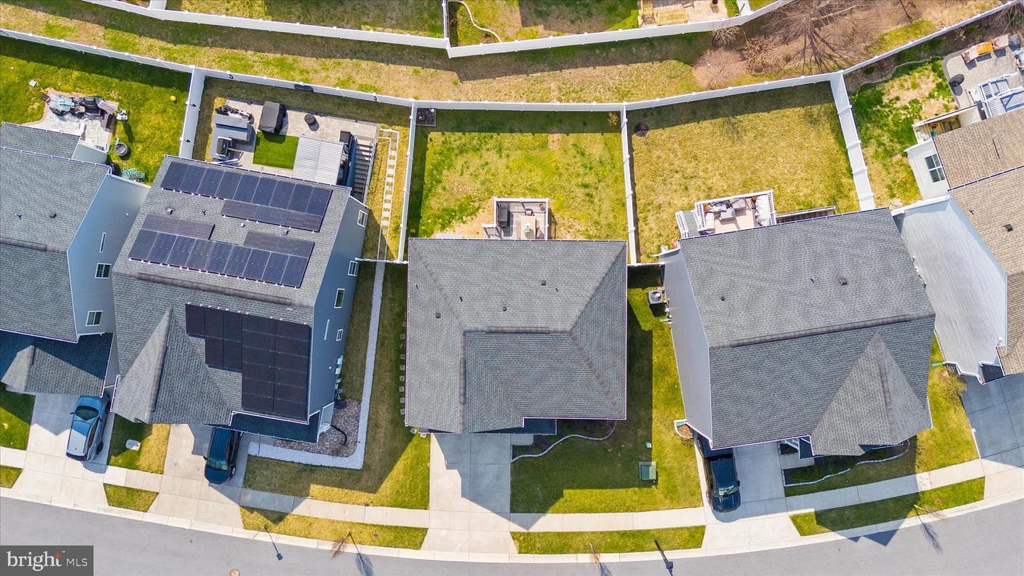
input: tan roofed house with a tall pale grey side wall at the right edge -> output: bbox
[900,107,1024,393]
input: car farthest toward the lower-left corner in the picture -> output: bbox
[64,395,110,465]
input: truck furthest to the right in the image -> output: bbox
[698,434,743,512]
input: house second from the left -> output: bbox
[108,153,366,446]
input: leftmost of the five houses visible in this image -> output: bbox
[0,119,152,397]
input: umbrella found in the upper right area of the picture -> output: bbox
[953,70,976,84]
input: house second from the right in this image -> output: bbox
[654,205,936,462]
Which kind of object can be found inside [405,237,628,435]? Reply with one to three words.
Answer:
house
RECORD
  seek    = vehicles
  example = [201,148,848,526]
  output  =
[202,427,242,484]
[698,434,743,512]
[64,395,110,465]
